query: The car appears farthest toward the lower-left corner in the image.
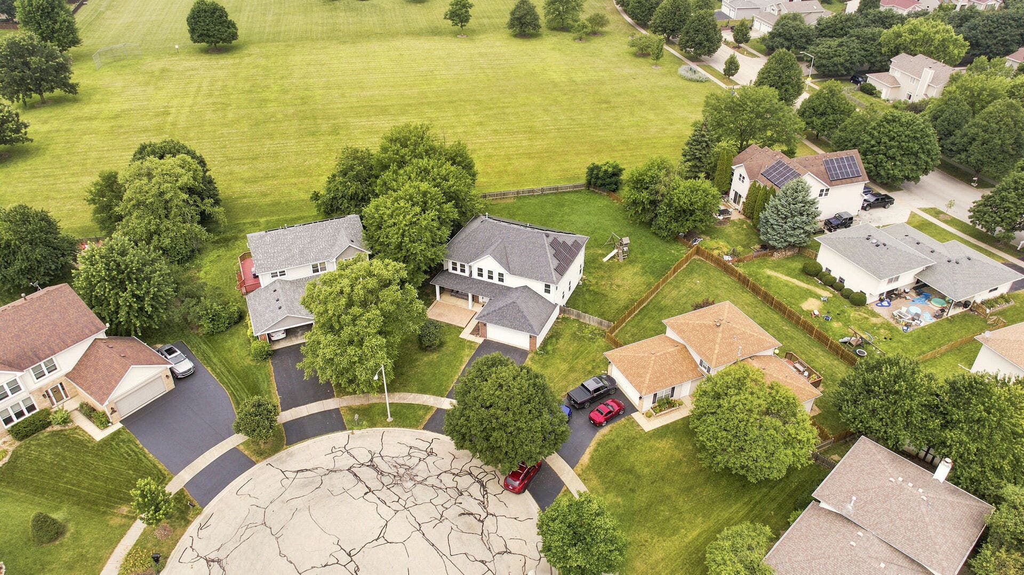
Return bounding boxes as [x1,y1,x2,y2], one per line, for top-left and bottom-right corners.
[157,346,190,375]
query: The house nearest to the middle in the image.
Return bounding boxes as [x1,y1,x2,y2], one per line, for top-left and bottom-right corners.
[429,213,589,351]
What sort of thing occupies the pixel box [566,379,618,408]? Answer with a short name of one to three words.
truck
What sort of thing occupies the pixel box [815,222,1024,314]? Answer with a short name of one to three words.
house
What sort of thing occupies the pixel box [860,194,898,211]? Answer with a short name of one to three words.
vehicle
